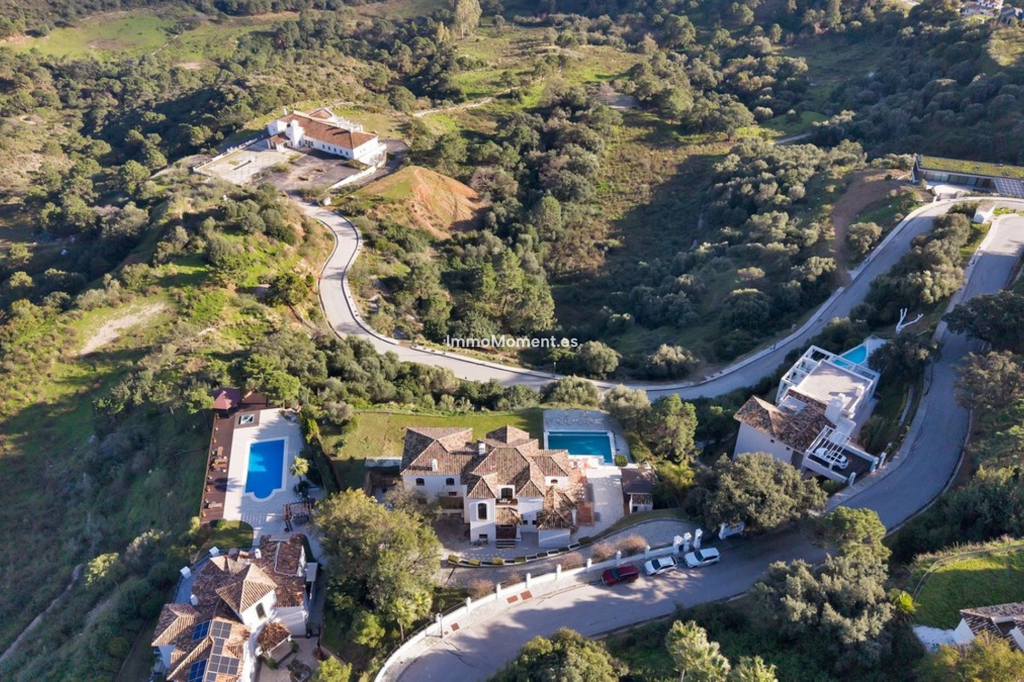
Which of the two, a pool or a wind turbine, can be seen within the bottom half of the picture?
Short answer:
pool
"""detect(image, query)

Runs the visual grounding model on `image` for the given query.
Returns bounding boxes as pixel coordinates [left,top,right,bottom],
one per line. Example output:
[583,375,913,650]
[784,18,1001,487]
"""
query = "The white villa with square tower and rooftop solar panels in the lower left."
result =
[149,533,317,682]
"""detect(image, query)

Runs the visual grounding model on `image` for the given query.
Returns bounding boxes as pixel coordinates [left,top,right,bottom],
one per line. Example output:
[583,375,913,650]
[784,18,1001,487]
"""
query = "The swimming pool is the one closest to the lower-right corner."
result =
[834,343,870,369]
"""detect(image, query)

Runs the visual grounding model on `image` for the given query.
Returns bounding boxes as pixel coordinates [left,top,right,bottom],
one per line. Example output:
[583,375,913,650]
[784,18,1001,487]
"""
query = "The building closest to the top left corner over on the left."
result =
[266,106,387,163]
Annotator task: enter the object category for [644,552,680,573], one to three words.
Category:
car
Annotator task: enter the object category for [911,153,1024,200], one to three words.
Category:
building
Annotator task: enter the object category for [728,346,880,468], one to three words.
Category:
house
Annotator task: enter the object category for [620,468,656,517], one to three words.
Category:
shed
